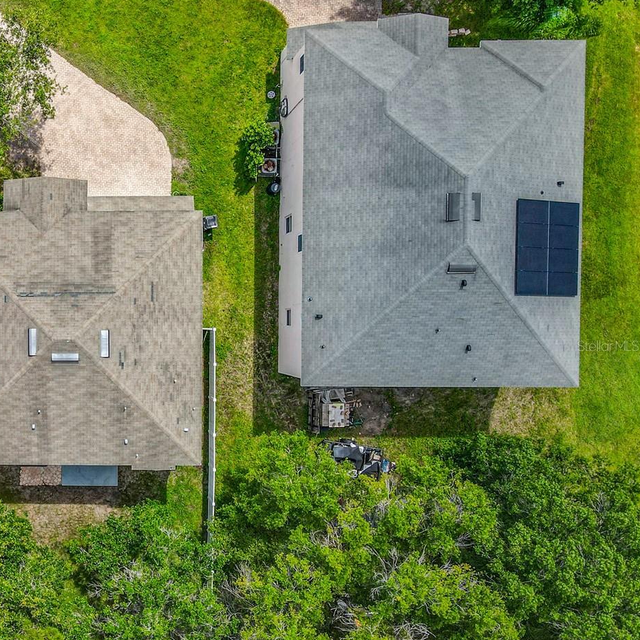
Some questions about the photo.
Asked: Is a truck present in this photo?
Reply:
No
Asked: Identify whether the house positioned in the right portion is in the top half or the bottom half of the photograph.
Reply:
top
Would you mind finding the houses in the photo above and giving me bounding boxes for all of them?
[280,11,583,387]
[0,176,202,470]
